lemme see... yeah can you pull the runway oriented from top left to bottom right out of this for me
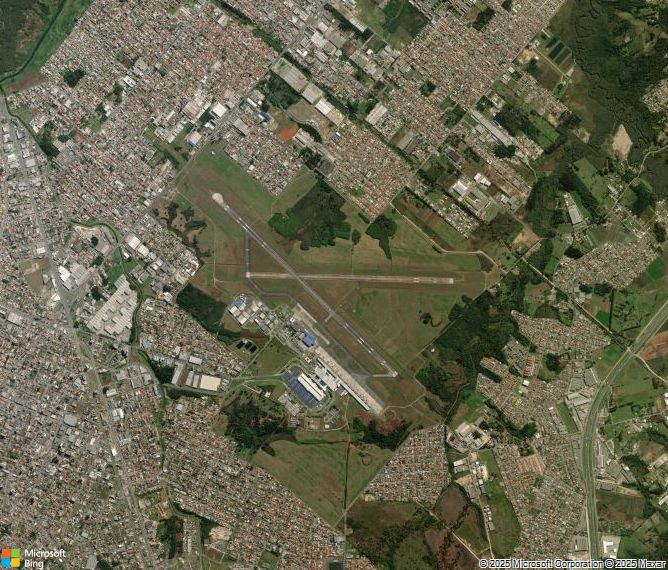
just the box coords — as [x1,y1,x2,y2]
[221,203,397,376]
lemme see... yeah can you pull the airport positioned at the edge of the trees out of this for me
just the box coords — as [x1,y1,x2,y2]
[153,147,496,523]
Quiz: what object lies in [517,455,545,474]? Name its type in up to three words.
building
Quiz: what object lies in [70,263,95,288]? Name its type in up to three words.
building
